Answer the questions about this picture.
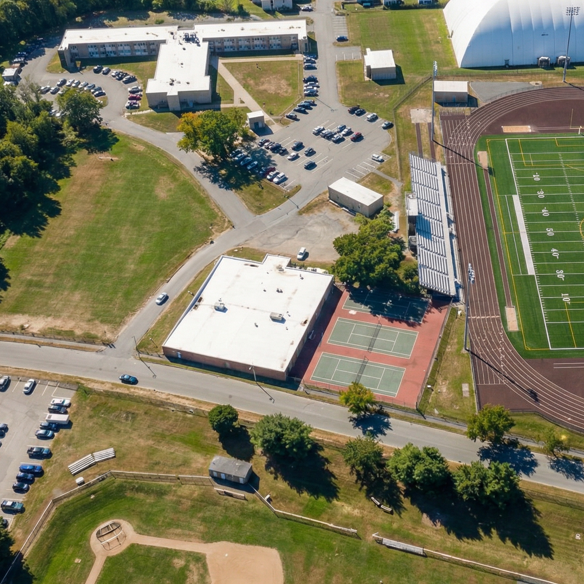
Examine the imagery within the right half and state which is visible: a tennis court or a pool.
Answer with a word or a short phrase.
tennis court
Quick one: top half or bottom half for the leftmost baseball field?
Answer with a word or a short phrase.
bottom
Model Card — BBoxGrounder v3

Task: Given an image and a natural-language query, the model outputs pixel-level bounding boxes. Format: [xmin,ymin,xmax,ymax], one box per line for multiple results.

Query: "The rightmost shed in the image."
[433,81,468,102]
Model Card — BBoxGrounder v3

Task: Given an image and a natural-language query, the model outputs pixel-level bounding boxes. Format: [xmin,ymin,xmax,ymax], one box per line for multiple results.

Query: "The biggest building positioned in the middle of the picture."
[162,254,334,380]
